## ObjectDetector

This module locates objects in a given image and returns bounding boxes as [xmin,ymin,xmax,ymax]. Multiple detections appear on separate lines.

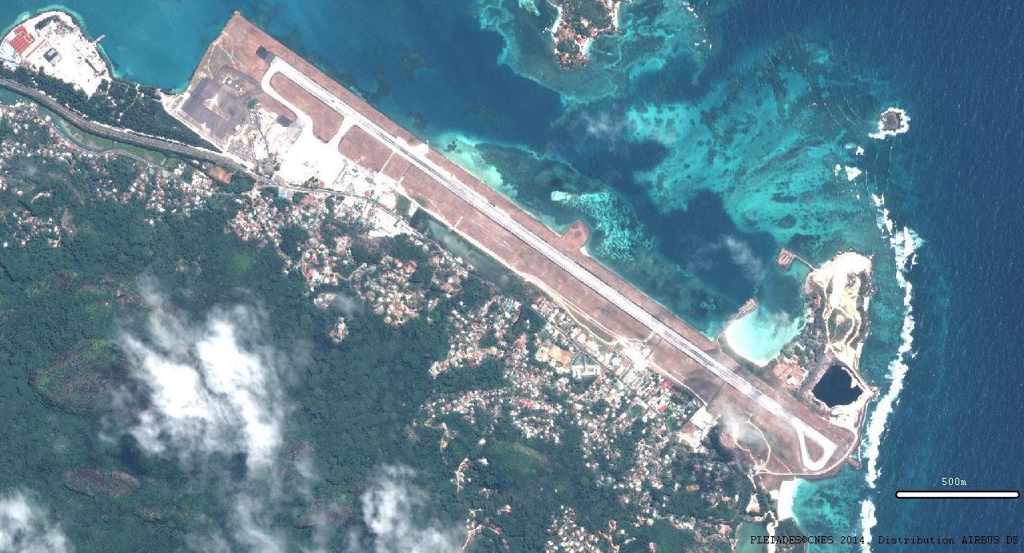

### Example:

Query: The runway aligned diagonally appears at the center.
[272,58,838,454]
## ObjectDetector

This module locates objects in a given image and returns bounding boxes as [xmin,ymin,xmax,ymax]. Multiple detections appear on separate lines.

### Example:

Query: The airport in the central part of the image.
[181,17,857,477]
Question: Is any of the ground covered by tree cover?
Yes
